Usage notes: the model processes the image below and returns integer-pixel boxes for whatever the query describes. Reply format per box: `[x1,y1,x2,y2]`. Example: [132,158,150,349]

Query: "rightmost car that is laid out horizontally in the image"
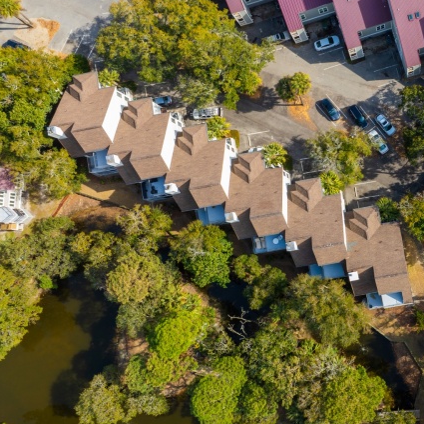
[315,37,341,52]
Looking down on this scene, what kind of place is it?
residential area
